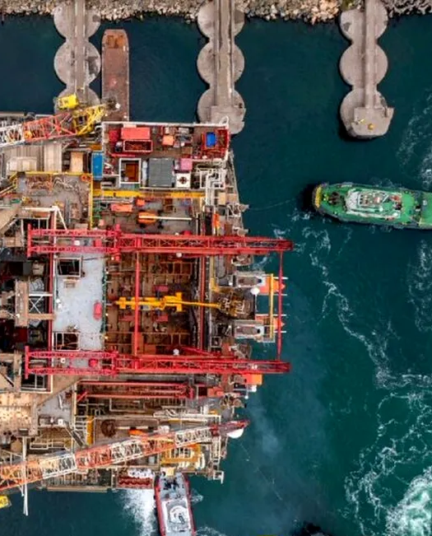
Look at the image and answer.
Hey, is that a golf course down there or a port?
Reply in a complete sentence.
This image shows a port.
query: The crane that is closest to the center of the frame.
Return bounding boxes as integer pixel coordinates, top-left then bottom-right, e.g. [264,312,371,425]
[136,210,192,229]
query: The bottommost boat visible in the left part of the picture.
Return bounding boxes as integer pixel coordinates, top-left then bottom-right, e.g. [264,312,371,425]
[149,476,196,536]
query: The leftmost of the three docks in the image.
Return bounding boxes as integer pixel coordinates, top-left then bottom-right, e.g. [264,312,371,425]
[52,0,101,123]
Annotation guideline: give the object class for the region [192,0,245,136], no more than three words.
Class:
pier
